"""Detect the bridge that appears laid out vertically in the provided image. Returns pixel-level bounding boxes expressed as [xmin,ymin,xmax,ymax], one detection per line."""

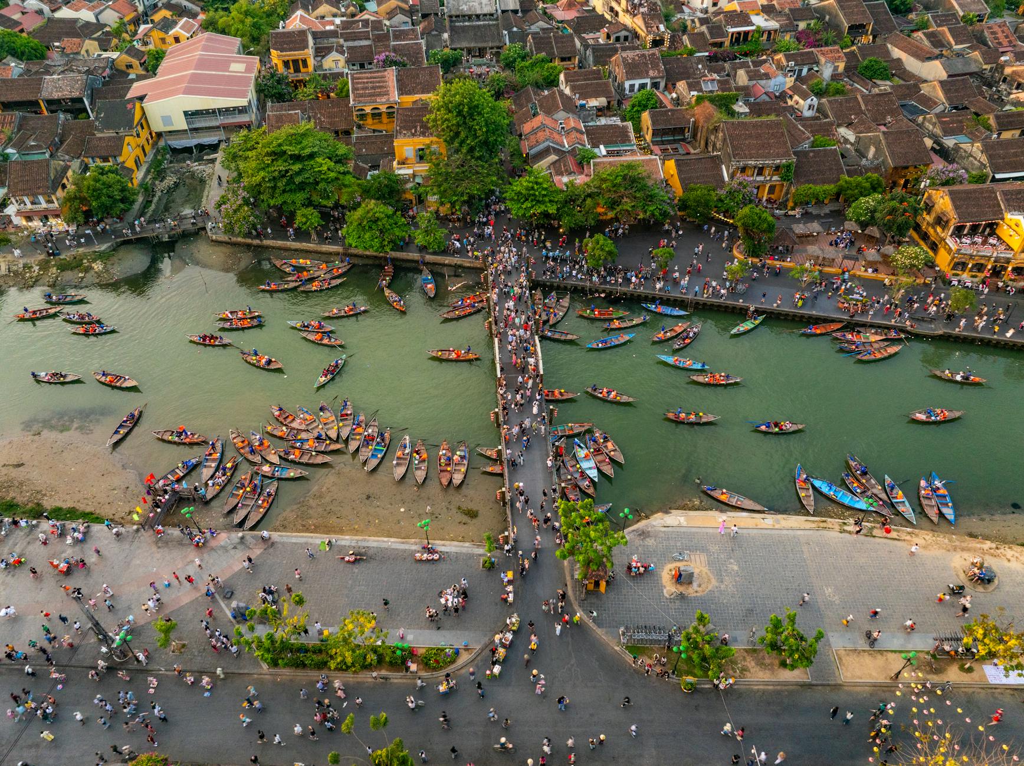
[487,256,565,554]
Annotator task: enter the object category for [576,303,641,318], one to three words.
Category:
boat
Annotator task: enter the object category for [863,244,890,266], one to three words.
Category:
umbrella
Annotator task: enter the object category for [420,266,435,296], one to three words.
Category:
boat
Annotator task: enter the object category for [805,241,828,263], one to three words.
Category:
umbrella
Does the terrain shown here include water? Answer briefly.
Yes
